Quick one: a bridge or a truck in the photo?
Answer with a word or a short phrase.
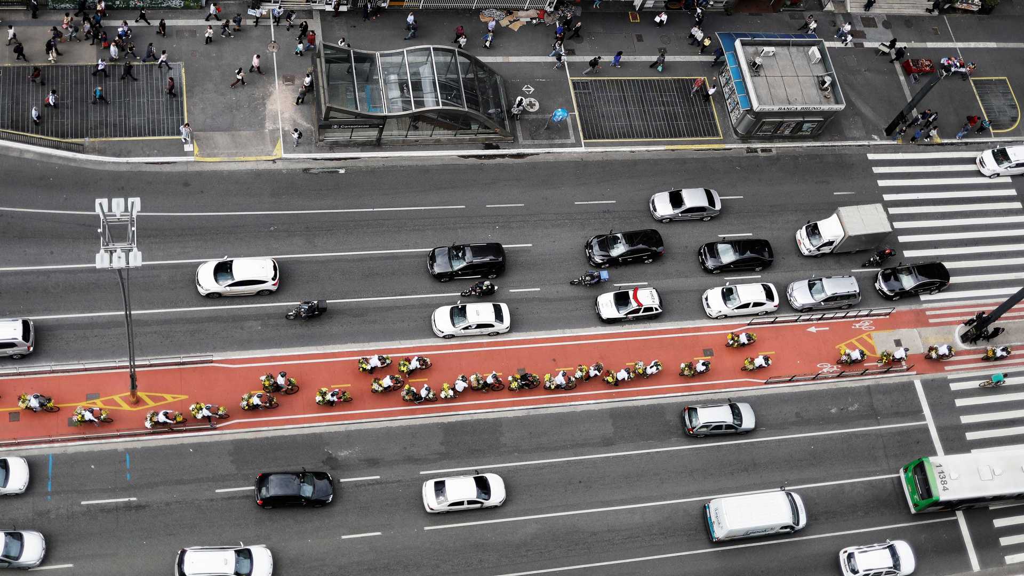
truck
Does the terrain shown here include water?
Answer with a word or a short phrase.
No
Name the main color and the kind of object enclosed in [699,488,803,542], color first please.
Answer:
white van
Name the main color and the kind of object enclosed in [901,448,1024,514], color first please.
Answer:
white bus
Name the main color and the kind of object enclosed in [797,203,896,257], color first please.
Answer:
white truck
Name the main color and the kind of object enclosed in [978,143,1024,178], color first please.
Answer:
white car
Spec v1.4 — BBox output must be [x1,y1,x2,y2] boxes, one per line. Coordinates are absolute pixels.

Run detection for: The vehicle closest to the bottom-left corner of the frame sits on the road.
[0,524,47,571]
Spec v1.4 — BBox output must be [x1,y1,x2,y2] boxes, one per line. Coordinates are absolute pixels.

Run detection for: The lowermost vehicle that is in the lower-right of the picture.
[841,540,917,576]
